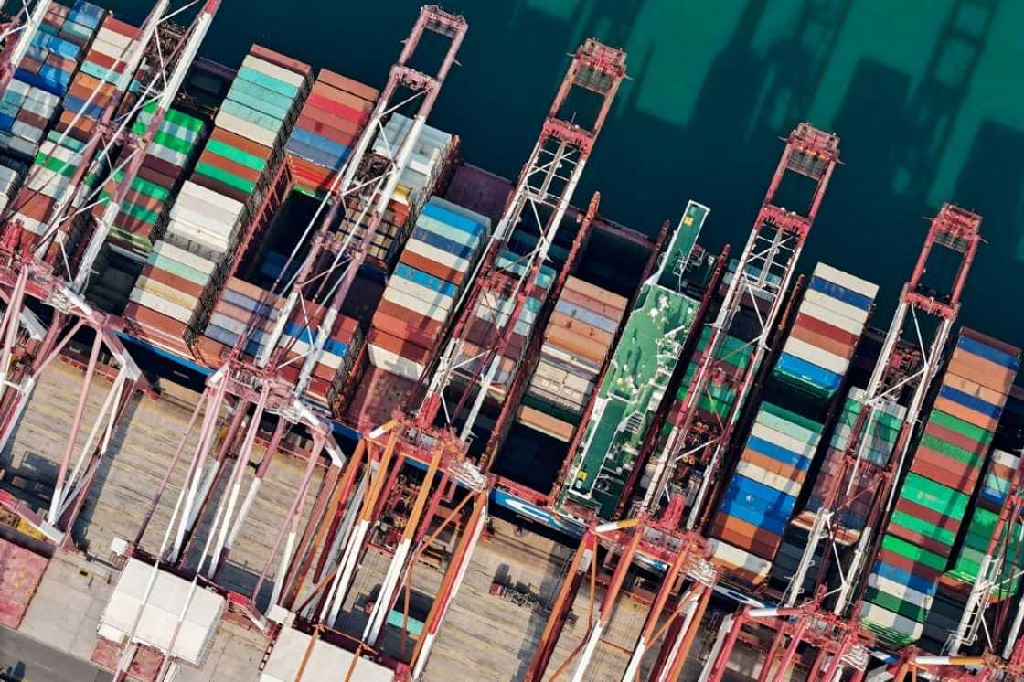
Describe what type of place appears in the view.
port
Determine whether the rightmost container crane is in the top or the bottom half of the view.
bottom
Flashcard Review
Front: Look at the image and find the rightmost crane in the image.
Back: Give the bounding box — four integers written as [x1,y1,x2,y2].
[850,428,1024,682]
